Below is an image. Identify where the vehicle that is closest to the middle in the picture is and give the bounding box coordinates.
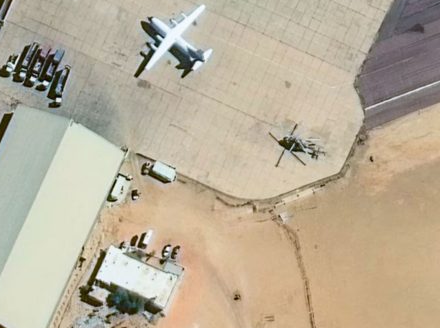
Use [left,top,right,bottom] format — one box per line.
[143,161,177,185]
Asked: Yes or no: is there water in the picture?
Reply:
No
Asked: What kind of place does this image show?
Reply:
airport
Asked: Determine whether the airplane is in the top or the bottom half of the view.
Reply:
top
